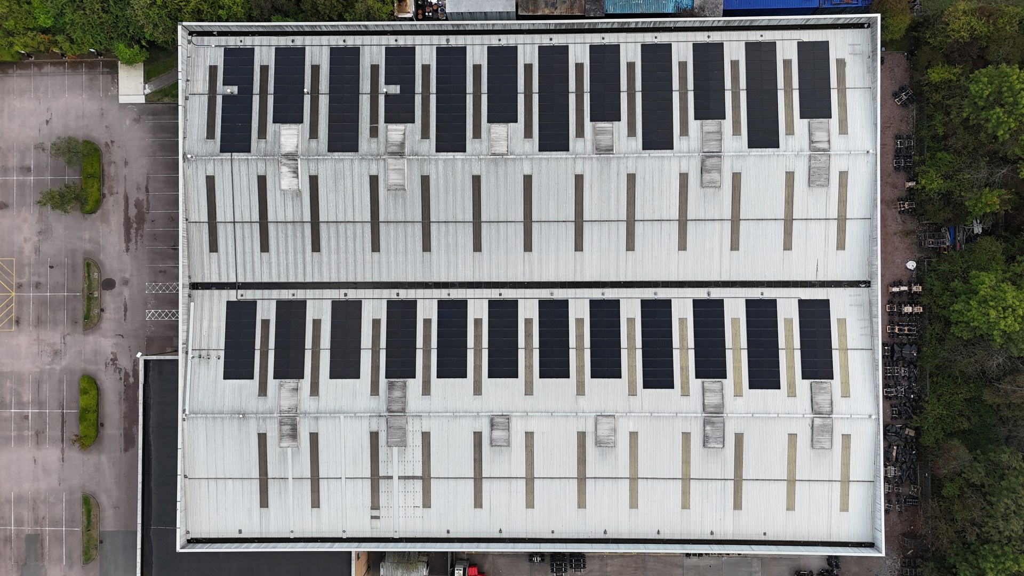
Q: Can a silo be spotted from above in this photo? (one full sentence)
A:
No, there is no silo in the image.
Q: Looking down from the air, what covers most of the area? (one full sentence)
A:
The scene is dominated by buildings.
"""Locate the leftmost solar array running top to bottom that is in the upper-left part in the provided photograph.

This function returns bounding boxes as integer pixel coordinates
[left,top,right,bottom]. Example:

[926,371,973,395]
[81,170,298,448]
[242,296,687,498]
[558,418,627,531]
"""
[220,48,254,152]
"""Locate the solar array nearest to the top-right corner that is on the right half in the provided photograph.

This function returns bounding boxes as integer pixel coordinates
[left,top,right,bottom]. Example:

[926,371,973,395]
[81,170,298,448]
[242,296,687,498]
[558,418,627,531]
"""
[797,41,832,118]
